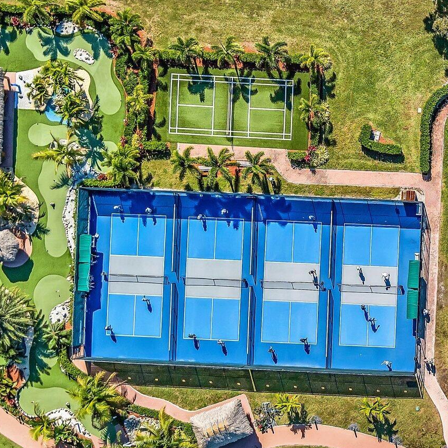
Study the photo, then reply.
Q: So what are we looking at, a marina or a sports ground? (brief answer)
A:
sports ground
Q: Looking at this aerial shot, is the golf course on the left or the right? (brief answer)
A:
left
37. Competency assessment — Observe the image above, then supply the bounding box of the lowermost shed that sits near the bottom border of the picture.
[191,393,255,448]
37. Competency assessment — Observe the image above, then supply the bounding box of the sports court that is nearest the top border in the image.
[154,66,310,150]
